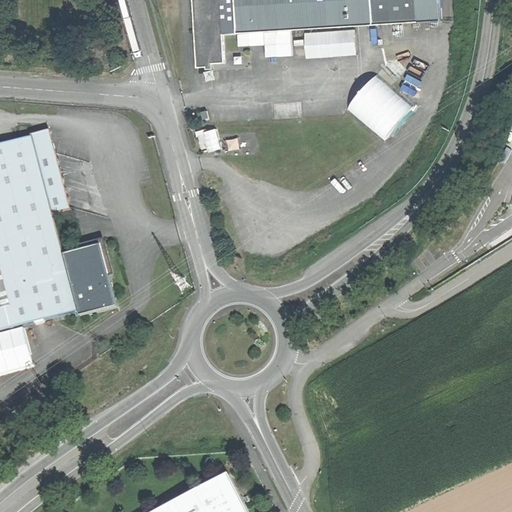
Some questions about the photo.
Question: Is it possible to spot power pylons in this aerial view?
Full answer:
Yes, there's a power pylon here.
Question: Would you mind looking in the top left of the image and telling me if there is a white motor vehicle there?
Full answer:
Yes, the scene does show a white motor vehicle in the top left of the image.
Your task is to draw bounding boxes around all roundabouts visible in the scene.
[182,284,296,398]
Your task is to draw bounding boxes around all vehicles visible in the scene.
[328,172,346,192]
[118,0,142,60]
[358,160,366,170]
[342,177,352,190]
[501,145,512,163]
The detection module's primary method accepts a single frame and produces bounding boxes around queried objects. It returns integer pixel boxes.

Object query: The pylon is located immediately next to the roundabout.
[166,268,194,296]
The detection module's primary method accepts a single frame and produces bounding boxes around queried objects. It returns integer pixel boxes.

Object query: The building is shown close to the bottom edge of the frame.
[150,472,250,512]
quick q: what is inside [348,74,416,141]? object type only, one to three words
hangar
